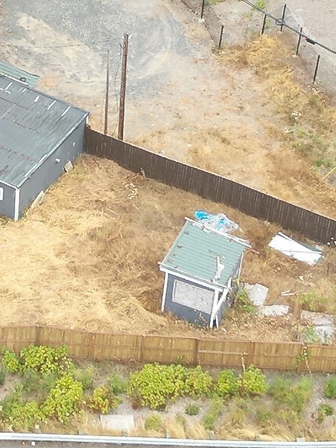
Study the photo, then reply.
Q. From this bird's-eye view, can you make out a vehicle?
No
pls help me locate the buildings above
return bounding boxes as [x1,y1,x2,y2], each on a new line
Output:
[0,63,91,223]
[155,223,262,329]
